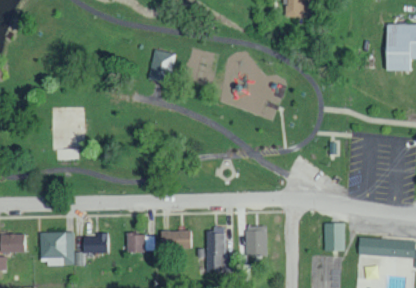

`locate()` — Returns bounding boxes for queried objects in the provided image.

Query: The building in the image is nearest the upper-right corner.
[385,24,416,71]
